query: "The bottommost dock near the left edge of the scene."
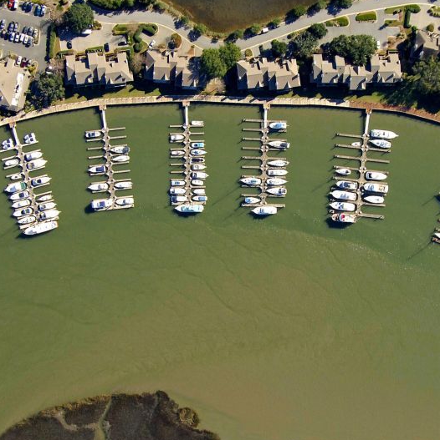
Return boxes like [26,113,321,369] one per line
[1,122,56,228]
